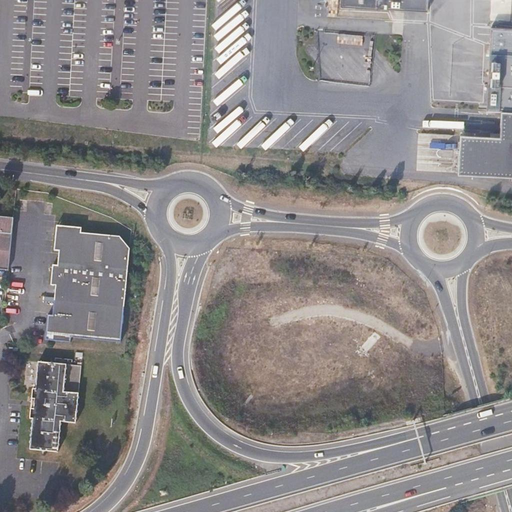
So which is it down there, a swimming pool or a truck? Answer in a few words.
truck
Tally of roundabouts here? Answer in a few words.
2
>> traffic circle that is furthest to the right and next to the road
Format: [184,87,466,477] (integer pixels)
[384,192,497,284]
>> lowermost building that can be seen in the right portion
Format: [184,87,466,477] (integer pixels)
[457,112,512,182]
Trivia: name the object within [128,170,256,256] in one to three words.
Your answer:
roundabout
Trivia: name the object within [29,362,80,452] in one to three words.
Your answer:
building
